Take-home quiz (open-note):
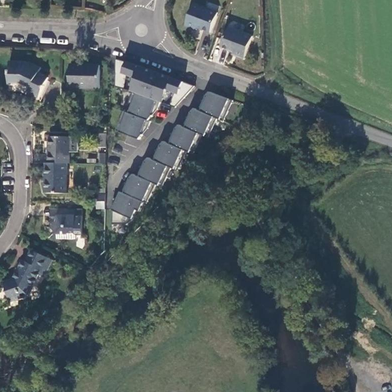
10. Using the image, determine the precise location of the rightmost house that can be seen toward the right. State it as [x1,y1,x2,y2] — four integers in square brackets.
[221,28,255,60]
